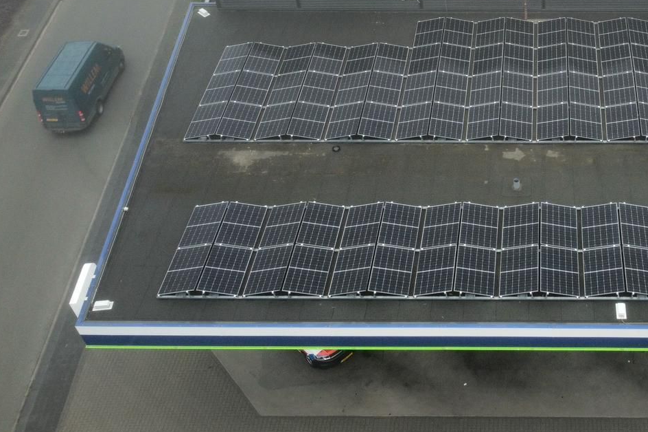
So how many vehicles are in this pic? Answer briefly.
2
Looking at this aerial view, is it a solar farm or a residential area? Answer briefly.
solar farm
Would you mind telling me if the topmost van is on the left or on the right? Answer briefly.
left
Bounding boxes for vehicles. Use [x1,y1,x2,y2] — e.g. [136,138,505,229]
[31,38,126,132]
[293,349,356,372]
